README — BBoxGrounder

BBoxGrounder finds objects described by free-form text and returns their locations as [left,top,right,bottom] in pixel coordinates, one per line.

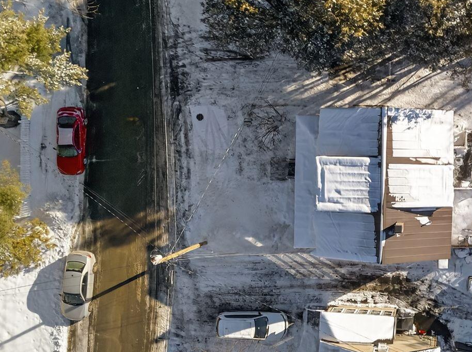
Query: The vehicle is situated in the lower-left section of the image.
[59,252,95,319]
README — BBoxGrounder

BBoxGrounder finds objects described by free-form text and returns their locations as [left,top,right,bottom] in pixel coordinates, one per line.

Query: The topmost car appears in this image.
[52,107,87,172]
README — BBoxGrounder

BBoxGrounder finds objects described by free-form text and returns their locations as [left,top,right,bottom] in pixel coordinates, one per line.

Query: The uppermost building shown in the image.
[288,106,454,267]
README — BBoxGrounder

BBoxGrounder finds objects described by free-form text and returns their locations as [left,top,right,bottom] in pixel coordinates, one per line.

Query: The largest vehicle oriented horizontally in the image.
[218,308,289,341]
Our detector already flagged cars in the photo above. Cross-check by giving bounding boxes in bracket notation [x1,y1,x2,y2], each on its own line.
[59,252,95,319]
[52,107,87,172]
[218,308,289,341]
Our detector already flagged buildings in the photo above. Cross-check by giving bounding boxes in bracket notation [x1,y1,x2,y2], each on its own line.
[288,106,454,267]
[319,306,441,352]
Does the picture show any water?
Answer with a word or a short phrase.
No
